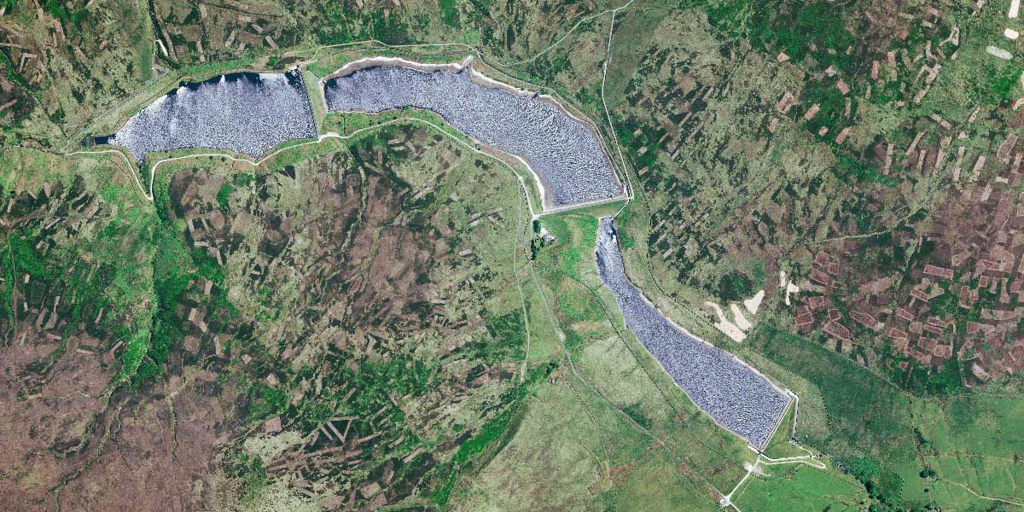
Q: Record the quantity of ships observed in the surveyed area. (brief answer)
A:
0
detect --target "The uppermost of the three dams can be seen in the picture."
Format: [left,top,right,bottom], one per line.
[299,70,331,138]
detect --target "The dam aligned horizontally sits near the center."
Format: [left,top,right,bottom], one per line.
[542,195,630,225]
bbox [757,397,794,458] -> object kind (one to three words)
dam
